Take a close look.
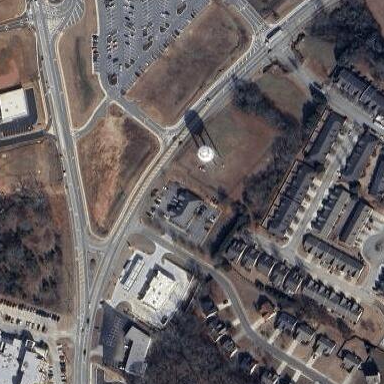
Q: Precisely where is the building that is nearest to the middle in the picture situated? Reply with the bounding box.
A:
[172,195,207,228]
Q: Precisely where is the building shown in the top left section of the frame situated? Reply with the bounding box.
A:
[0,88,28,120]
